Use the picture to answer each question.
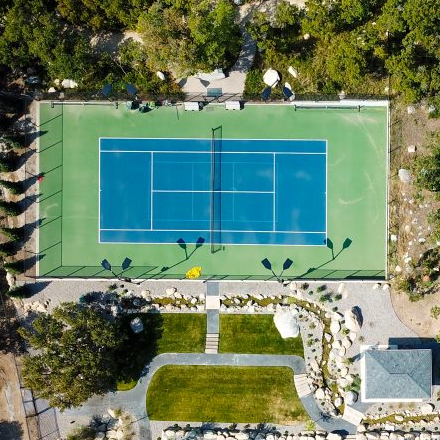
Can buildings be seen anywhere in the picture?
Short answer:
Yes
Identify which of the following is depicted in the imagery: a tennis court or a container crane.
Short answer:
tennis court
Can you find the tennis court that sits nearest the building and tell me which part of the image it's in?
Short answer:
center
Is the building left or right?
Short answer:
right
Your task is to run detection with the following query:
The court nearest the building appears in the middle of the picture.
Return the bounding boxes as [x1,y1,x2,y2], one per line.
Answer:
[34,99,390,282]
